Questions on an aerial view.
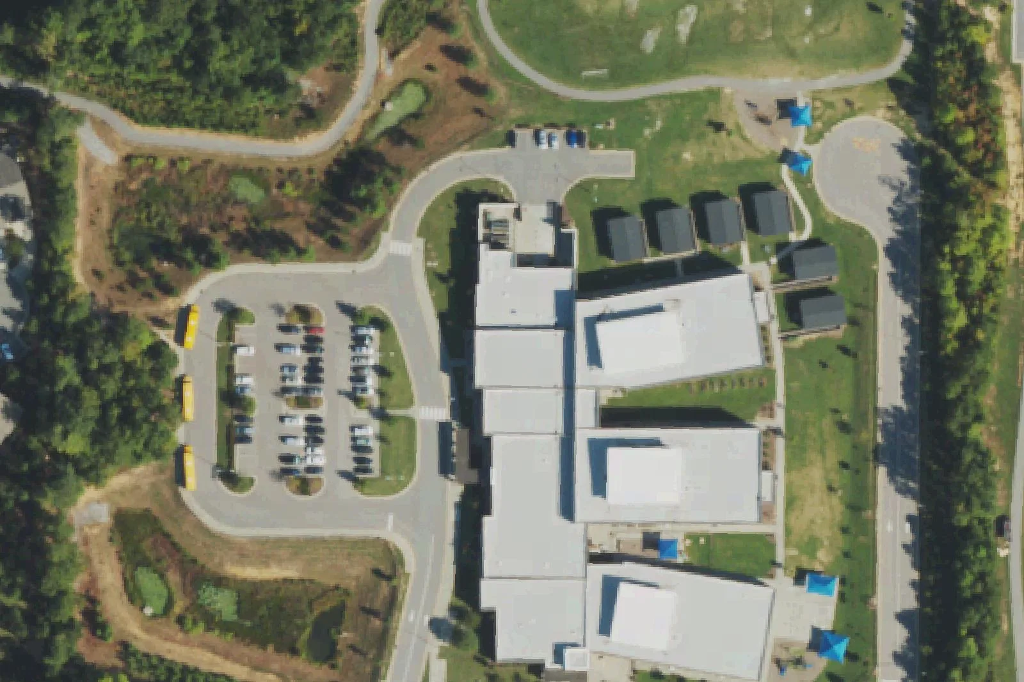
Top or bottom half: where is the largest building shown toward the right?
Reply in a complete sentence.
It is in the bottom half that the largest building shown toward the right appears.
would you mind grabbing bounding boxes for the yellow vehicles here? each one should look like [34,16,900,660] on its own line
[183,304,199,349]
[181,378,193,422]
[183,446,197,490]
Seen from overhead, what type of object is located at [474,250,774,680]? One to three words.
building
